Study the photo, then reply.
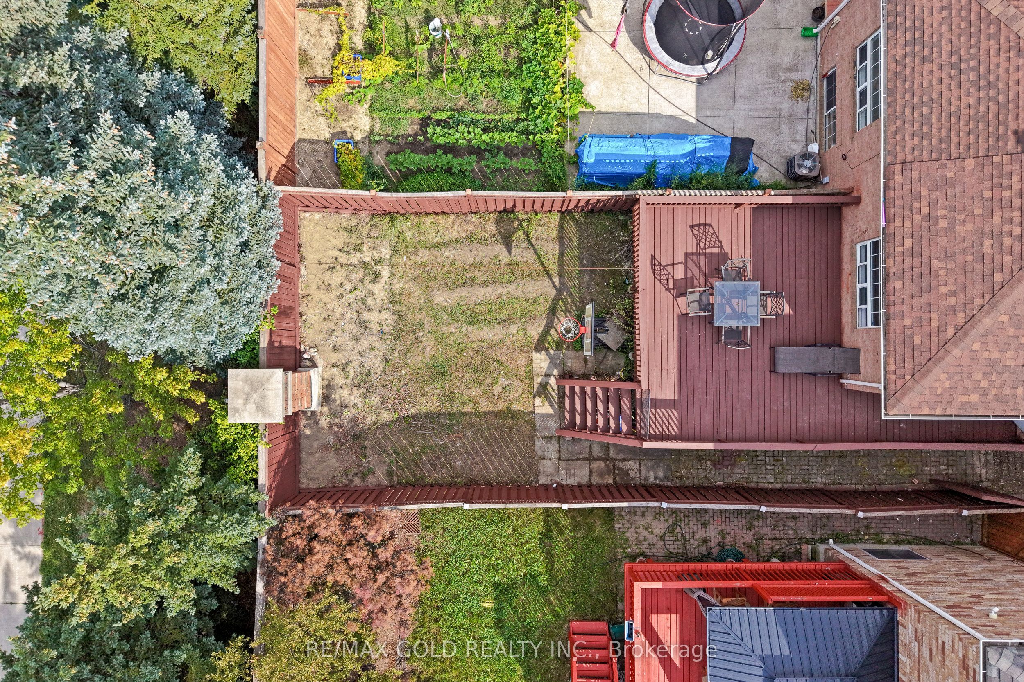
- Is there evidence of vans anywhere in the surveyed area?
No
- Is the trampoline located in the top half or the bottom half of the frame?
top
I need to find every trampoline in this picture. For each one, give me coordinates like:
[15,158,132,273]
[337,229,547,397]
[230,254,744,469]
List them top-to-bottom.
[636,0,764,95]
